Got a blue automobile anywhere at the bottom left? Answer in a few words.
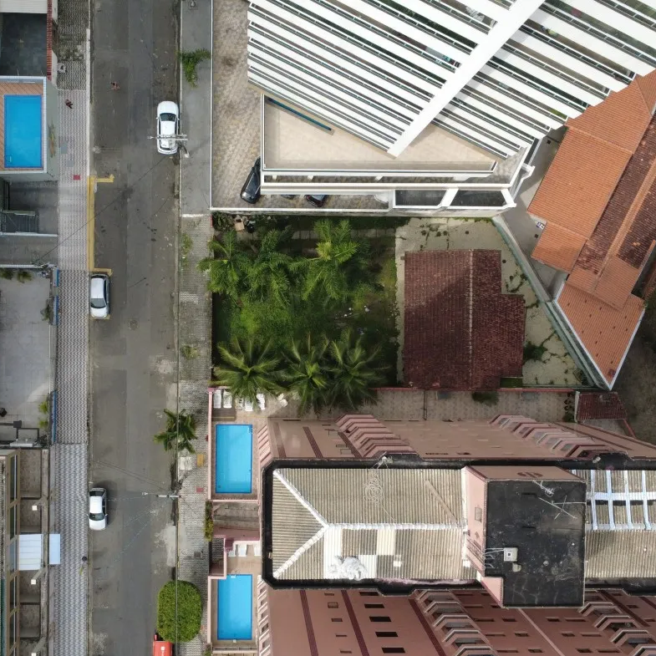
No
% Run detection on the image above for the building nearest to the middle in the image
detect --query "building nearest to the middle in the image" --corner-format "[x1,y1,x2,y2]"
[402,249,525,391]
